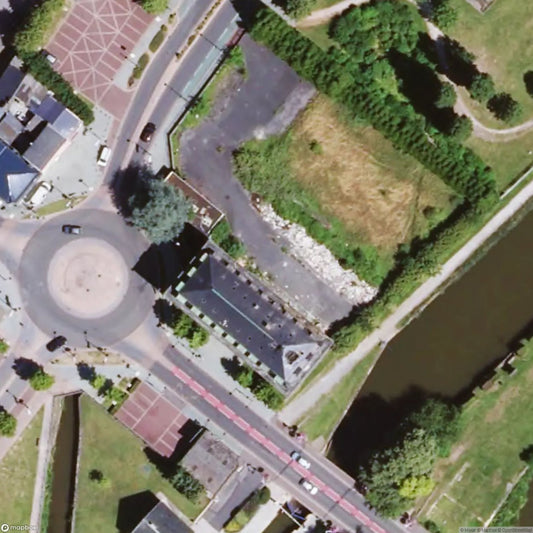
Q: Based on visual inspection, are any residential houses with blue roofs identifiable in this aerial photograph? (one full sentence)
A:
Yes, the image includes a residential house with a blue roof.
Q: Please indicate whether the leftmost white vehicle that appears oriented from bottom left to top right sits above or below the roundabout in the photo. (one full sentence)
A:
In the image, the leftmost white vehicle that appears oriented from bottom left to top right sits above the roundabout.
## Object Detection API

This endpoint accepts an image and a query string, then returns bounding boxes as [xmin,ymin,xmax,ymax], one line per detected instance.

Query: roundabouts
[19,210,156,347]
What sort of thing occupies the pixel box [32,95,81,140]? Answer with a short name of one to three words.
house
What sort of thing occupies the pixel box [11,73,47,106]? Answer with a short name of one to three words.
house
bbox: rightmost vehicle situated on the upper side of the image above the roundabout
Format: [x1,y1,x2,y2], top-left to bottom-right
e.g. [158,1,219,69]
[141,121,155,139]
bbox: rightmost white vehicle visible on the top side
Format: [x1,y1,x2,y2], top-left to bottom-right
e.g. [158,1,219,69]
[97,146,111,166]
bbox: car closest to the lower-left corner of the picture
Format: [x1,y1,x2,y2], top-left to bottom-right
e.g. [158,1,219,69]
[47,336,66,350]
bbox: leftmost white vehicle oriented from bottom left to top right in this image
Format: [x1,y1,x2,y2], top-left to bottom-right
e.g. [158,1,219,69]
[29,183,48,206]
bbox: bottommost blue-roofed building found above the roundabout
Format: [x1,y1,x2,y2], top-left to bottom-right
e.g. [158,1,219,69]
[0,138,39,204]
